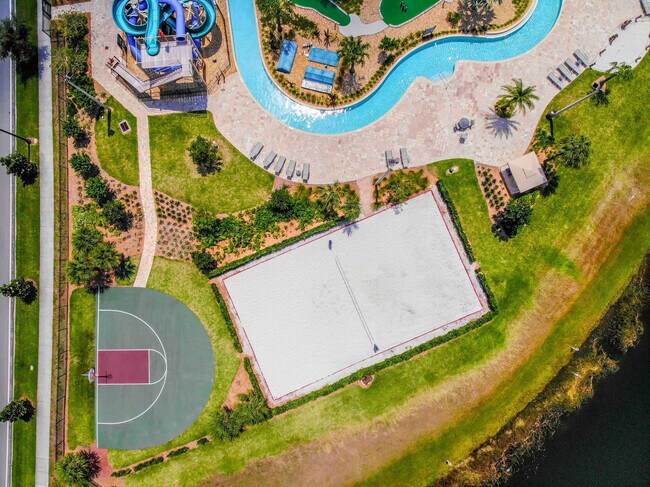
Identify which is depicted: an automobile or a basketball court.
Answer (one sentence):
This aerial view contains a basketball court.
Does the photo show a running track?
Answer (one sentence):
No, the photo shows no running track.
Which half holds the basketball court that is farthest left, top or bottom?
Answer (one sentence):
The basketball court that is farthest left sits in the bottom half of the picture.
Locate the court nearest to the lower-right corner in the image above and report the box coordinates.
[214,183,491,410]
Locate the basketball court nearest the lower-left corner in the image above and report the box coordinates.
[95,287,213,450]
